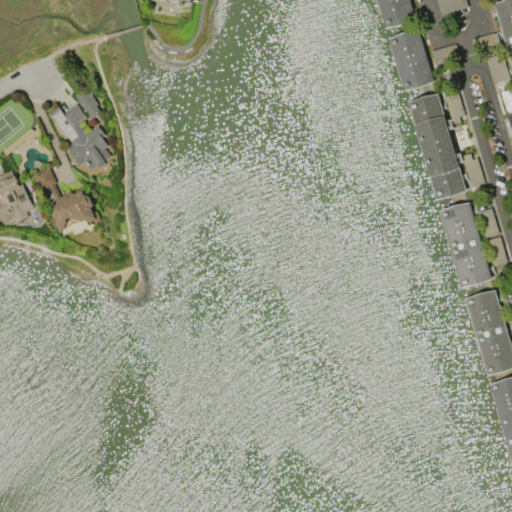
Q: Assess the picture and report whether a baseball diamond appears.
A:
No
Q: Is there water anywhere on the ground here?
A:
Yes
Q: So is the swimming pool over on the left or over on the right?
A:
left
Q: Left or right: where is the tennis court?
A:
left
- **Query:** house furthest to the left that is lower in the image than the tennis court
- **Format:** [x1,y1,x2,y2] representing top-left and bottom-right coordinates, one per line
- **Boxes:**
[0,170,34,225]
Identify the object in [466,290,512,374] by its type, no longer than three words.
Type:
building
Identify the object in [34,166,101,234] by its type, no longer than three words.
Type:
house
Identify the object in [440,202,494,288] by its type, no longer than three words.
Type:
building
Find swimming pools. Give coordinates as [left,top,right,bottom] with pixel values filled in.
[26,148,48,169]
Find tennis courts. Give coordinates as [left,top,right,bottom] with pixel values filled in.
[0,96,34,153]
